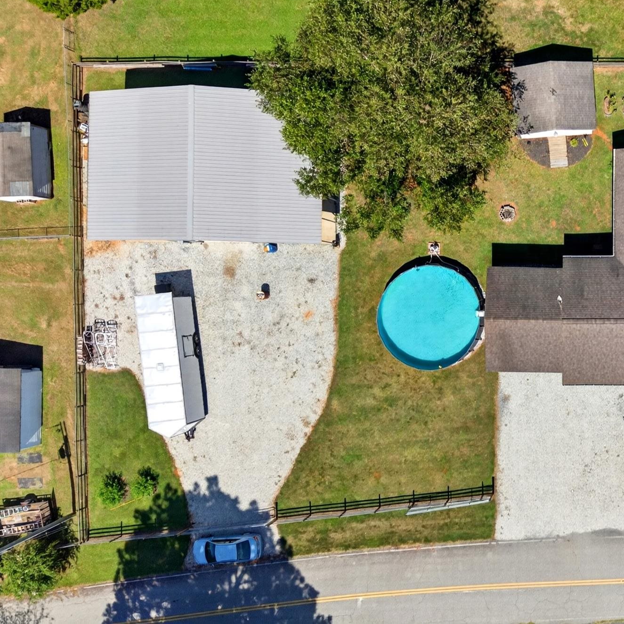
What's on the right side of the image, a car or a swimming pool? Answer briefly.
swimming pool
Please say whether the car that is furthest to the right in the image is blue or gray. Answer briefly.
blue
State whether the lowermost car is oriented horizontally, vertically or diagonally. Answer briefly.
horizontally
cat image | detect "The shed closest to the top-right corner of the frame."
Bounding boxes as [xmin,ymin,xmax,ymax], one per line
[516,60,596,139]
